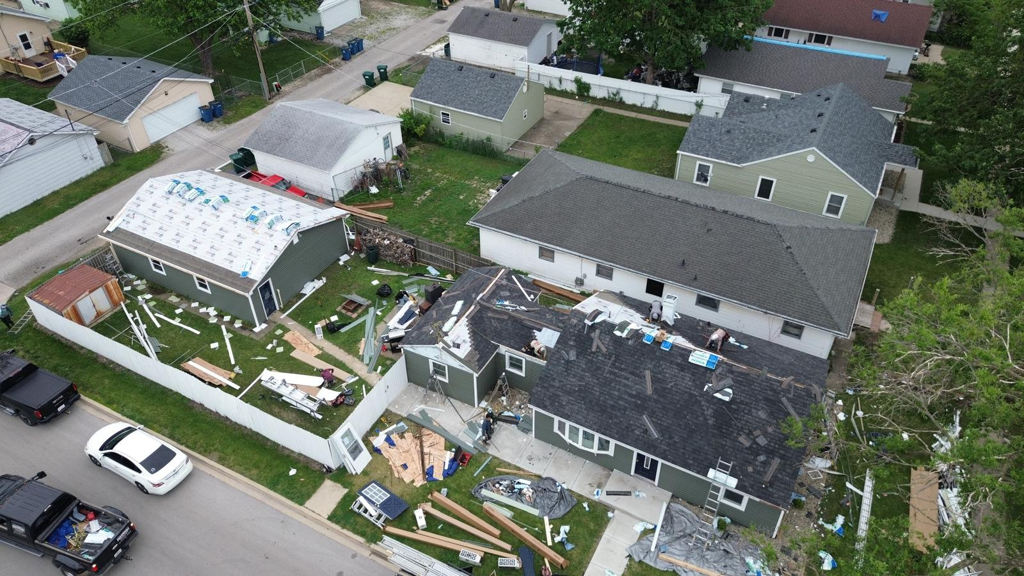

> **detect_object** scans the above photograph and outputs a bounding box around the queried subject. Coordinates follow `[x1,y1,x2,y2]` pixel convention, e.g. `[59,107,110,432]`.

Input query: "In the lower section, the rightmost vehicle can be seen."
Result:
[86,430,193,502]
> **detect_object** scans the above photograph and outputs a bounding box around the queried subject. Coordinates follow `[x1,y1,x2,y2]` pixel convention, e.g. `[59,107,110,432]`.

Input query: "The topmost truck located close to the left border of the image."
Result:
[0,349,81,424]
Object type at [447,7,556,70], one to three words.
building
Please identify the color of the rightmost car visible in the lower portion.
white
